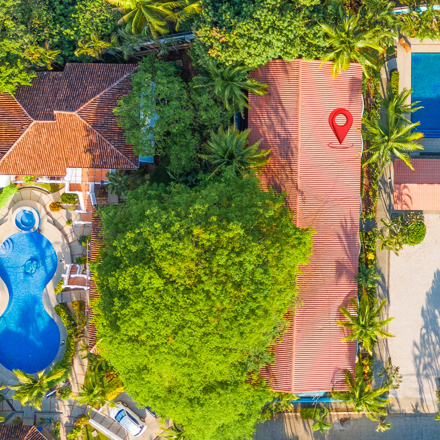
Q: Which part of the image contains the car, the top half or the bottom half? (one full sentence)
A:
The bottom half of the photo is where the car is.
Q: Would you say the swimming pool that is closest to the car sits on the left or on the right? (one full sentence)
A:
It is on the left.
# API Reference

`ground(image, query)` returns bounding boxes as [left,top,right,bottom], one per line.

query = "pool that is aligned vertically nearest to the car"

[0,232,60,373]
